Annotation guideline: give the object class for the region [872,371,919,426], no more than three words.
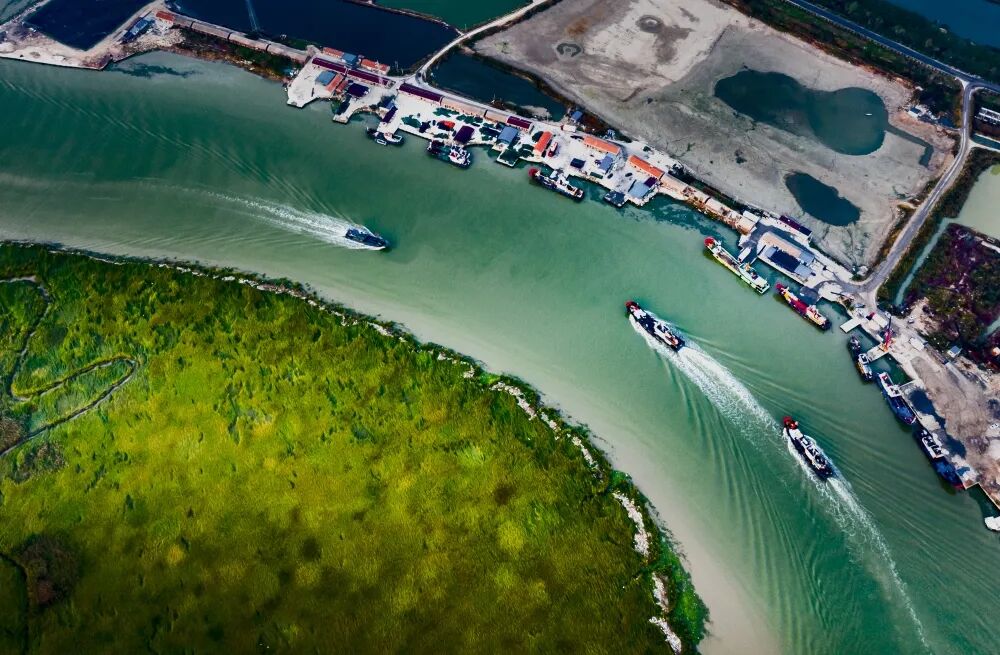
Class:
vessel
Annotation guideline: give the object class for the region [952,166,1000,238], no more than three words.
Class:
pond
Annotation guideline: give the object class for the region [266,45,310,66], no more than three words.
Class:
house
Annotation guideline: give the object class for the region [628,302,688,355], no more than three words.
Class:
boat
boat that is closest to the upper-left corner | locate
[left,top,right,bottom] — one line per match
[365,124,406,147]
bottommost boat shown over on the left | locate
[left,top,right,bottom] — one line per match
[343,227,390,248]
